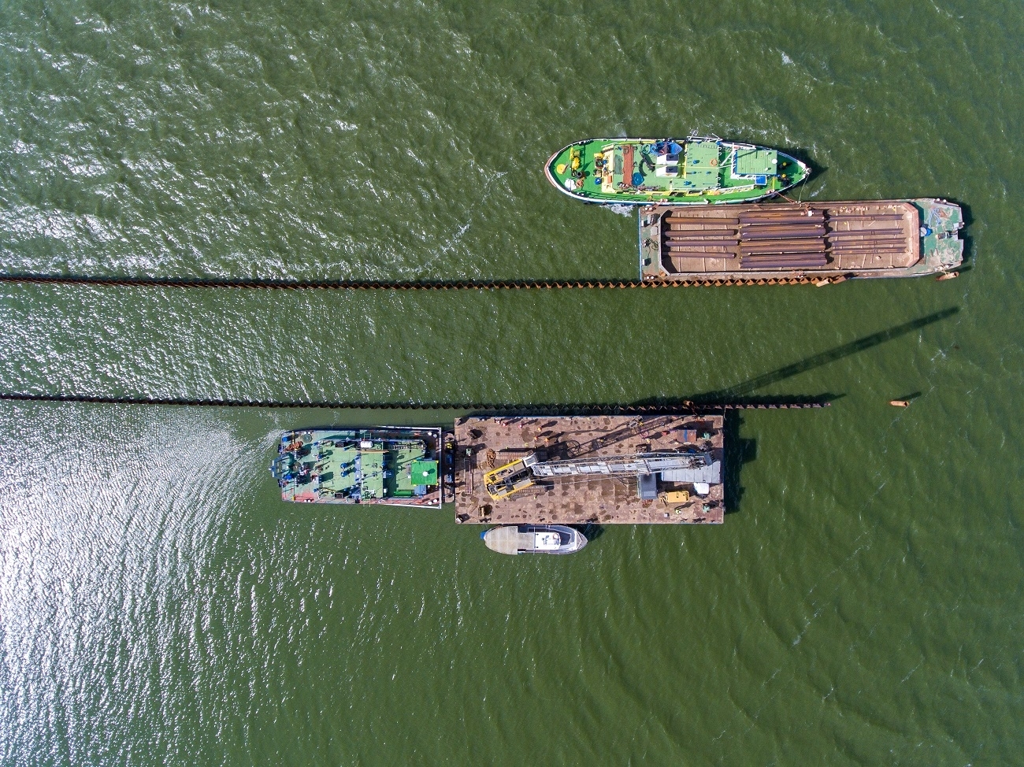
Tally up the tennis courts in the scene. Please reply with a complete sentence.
The photo contains no tennis courts.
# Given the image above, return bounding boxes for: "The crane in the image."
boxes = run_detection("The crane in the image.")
[486,422,719,499]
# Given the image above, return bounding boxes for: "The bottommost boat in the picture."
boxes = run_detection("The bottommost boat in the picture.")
[481,524,587,555]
